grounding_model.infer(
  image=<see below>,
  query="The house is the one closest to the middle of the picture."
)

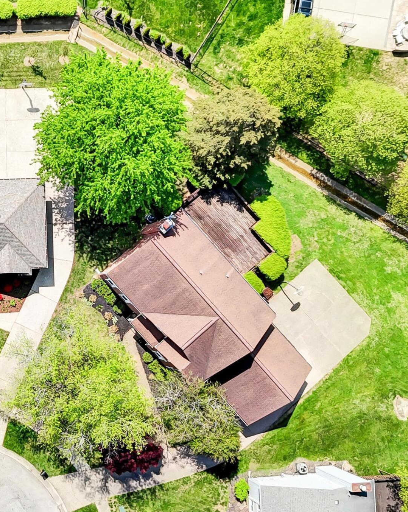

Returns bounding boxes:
[101,207,312,427]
